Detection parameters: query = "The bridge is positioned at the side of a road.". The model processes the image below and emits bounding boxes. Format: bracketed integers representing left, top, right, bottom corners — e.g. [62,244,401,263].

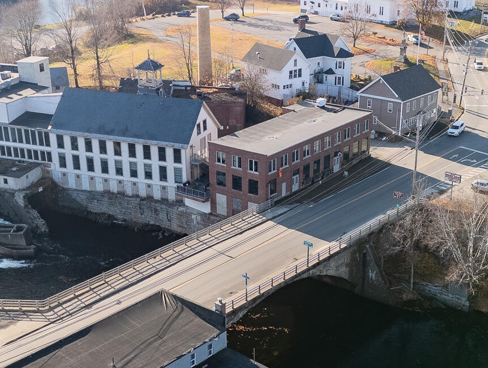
[0,198,416,337]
